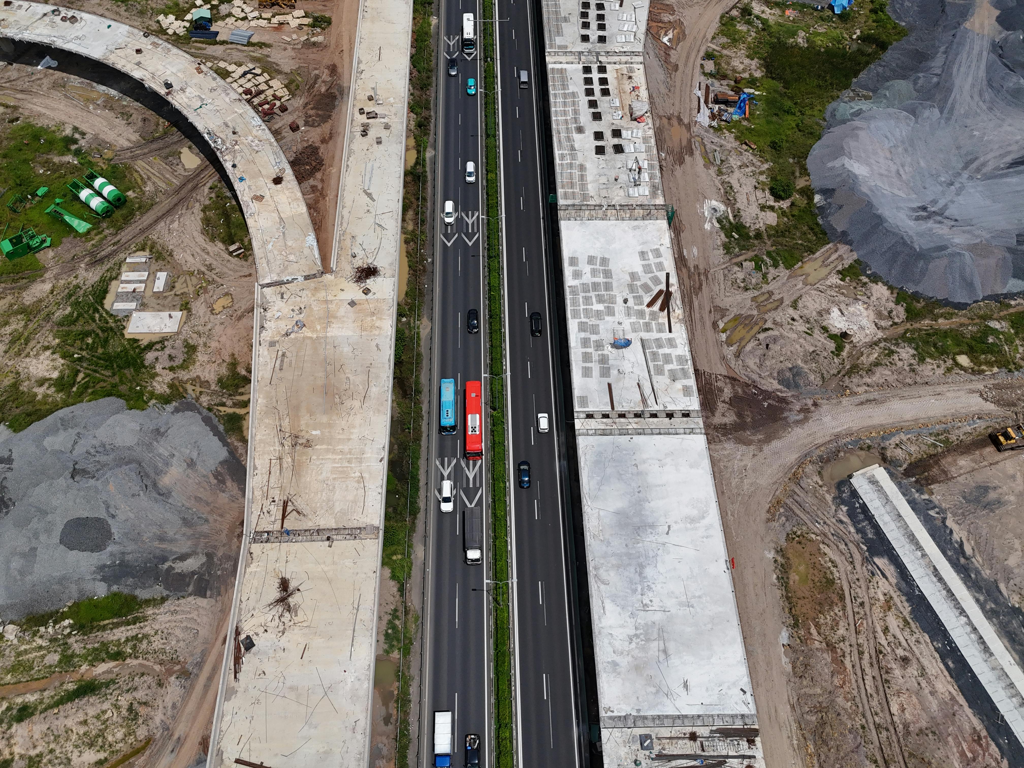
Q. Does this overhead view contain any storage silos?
Yes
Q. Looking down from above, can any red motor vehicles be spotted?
Yes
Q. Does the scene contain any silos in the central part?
No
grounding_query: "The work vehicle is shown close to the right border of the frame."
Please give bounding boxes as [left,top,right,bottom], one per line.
[993,416,1024,450]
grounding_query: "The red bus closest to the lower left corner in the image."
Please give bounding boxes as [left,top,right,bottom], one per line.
[464,384,484,455]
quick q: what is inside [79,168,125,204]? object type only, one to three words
silo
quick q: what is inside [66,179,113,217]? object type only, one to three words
silo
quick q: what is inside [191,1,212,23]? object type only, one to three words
shed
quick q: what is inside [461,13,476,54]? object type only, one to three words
vehicle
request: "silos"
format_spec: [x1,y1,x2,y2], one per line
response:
[79,168,125,204]
[66,179,113,217]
